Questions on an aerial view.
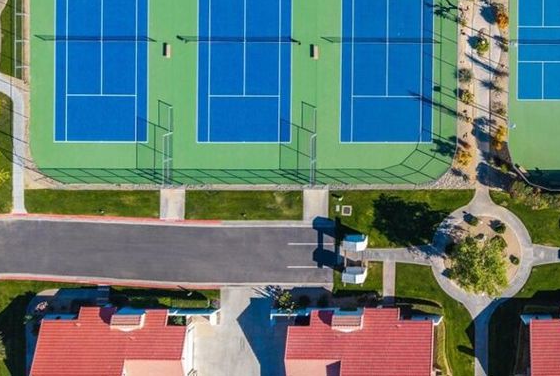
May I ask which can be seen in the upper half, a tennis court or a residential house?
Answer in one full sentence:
Looking in the upper half, you will find a tennis court.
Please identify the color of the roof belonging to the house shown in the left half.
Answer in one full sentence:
The color of the roof on the house shown in the left half is red.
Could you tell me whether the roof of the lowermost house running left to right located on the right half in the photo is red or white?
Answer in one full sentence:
The color of the roof of the lowermost house running left to right located on the right half is red.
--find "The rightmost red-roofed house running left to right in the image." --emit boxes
[283,304,435,376]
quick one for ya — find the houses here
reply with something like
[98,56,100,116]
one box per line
[283,304,435,376]
[29,304,196,376]
[527,314,560,376]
